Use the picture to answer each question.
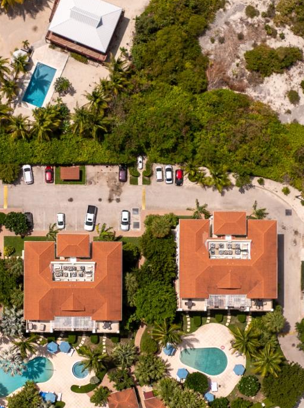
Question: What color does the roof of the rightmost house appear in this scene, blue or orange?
orange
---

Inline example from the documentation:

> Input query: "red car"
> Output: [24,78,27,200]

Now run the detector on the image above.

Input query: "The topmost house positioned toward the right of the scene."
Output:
[176,212,277,311]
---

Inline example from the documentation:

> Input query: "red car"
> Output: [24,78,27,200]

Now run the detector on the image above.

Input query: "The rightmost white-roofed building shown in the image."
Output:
[45,0,121,60]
